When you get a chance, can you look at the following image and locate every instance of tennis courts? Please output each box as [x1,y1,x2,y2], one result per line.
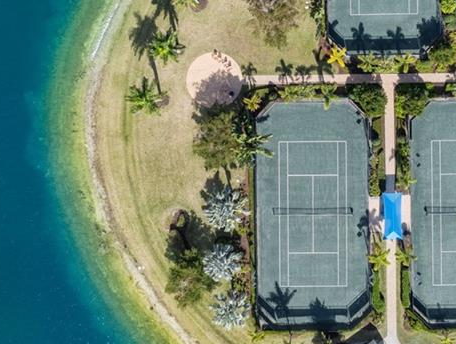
[410,100,456,320]
[256,100,370,321]
[327,0,441,52]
